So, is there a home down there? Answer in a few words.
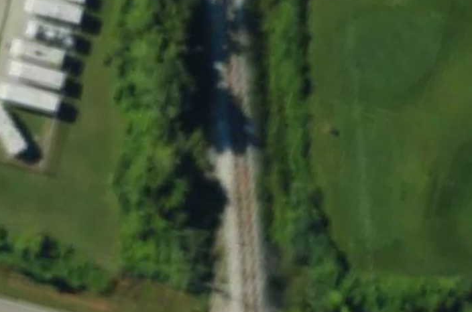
No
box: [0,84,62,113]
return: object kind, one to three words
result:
trailer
